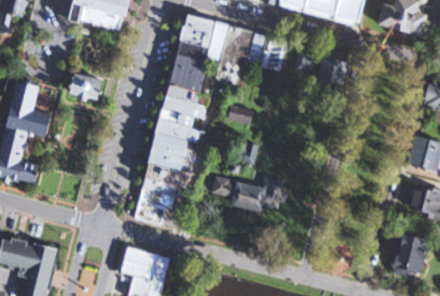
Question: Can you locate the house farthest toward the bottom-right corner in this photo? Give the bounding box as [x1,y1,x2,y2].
[396,235,428,276]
